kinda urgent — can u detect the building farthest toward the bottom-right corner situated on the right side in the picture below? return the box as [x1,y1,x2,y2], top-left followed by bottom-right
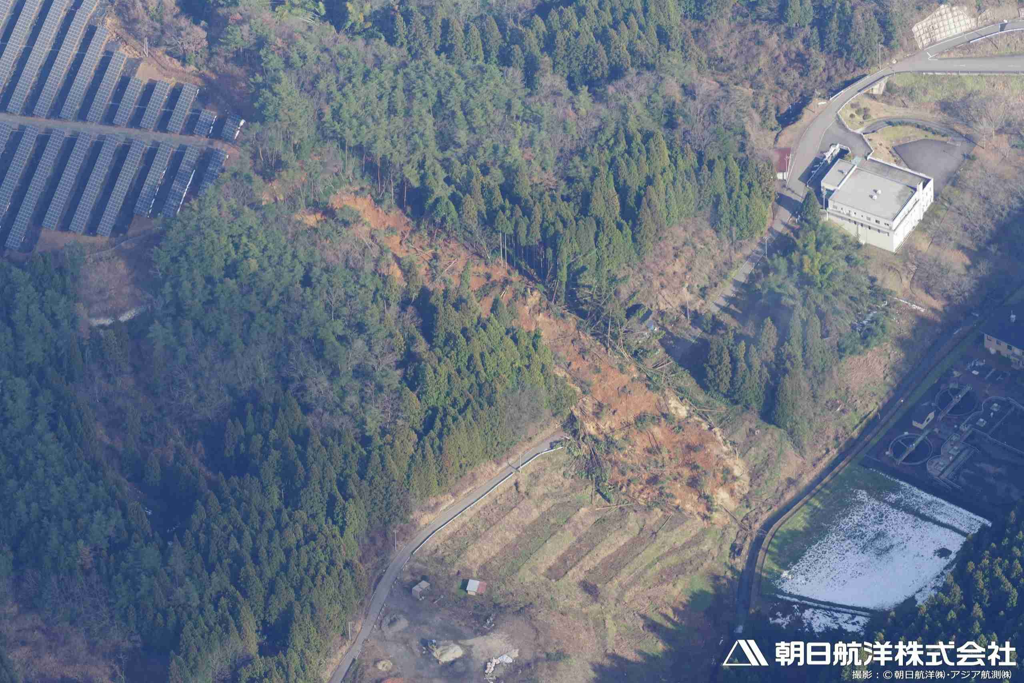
[912,406,935,431]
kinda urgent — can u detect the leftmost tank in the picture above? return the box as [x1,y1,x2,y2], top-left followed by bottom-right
[889,429,933,469]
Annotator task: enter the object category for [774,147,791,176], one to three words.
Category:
shed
